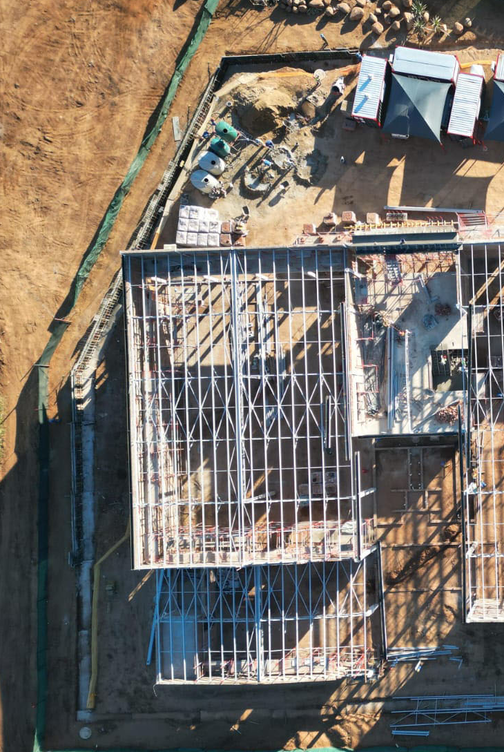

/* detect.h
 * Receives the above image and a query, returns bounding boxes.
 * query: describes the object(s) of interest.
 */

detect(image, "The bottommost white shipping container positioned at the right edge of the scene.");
[450,72,486,147]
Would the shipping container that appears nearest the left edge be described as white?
Yes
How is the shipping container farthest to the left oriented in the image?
vertically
